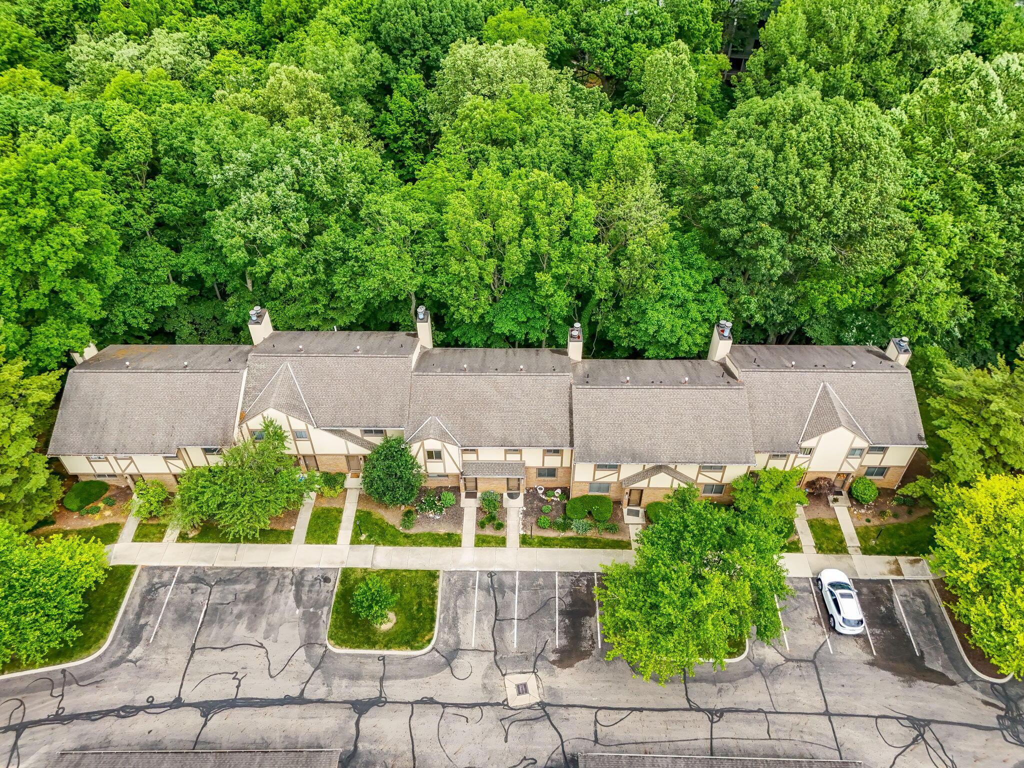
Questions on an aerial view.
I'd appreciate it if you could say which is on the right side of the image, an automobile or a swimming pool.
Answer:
automobile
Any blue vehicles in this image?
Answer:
No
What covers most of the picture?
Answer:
trees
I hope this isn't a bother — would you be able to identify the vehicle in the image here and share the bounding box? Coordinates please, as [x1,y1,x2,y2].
[819,569,867,636]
